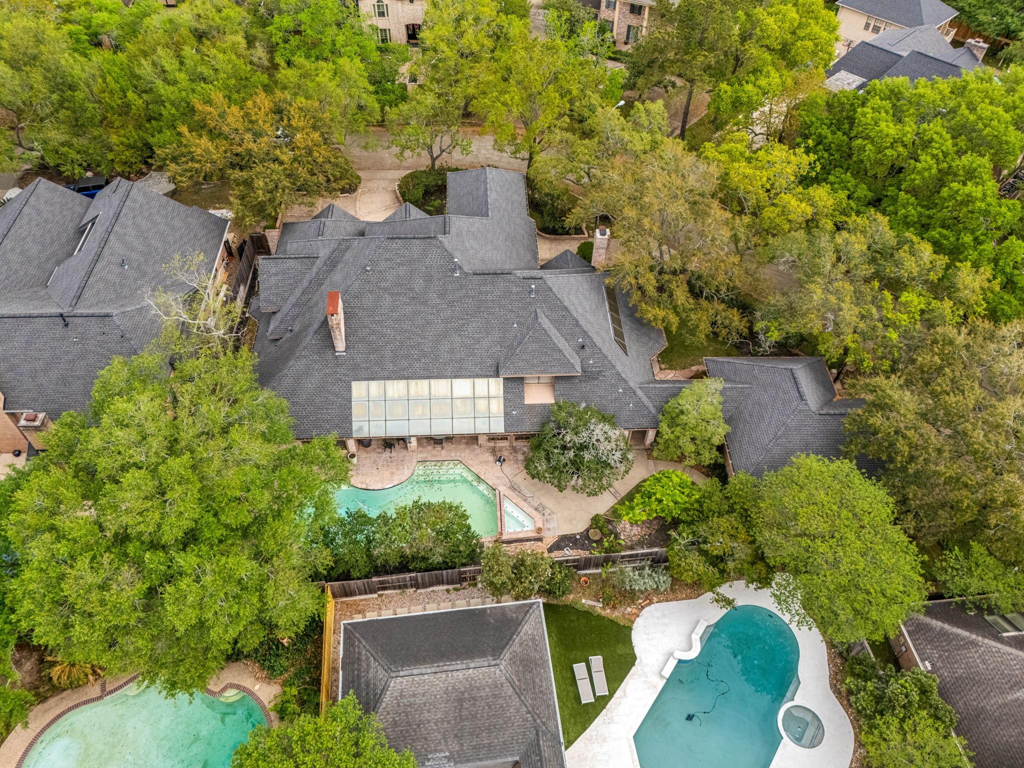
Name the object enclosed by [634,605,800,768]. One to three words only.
swimming pool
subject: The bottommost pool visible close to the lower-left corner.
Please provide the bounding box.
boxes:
[10,664,272,768]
